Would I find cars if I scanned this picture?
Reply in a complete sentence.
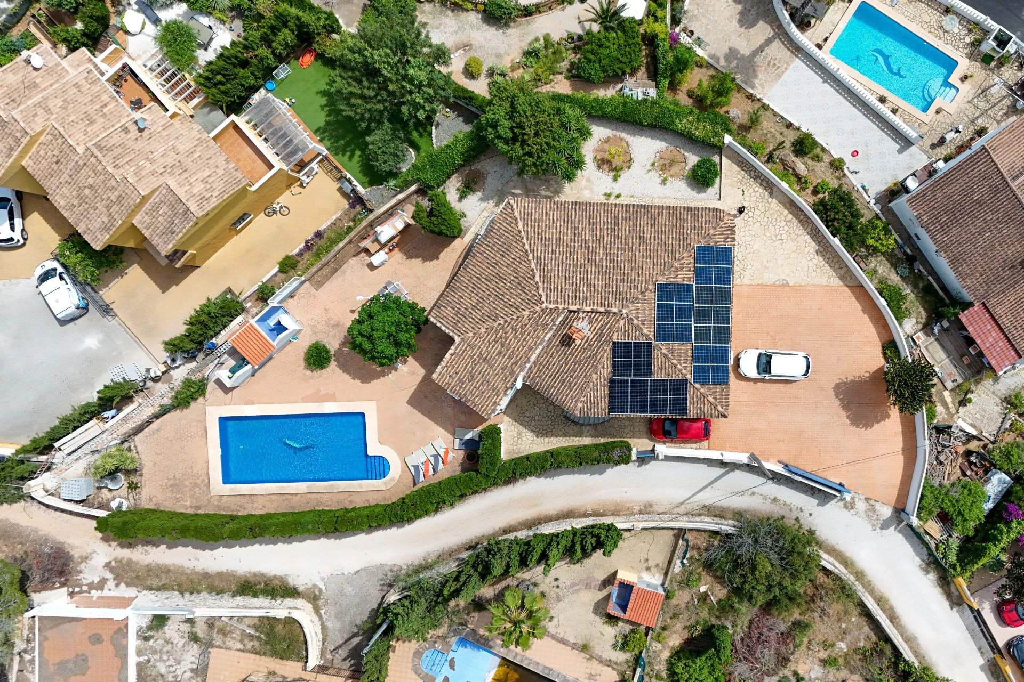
Yes, there's a car down there.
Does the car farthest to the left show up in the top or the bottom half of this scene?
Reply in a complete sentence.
It is in the top half that the car farthest to the left appears.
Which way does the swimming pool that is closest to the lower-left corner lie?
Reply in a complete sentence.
What the image shows is the swimming pool that is closest to the lower-left corner lying horizontally.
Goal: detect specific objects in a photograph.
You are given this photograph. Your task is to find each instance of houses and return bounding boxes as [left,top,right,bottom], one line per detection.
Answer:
[877,112,1024,375]
[427,195,736,423]
[0,43,294,272]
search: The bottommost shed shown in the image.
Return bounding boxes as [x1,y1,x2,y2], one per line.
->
[602,561,665,629]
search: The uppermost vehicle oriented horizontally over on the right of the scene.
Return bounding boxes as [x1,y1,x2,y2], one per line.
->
[735,347,809,382]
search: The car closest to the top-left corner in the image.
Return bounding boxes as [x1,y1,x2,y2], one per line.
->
[0,185,31,253]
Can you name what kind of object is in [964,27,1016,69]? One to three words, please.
building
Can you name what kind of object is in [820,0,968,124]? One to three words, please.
swimming pool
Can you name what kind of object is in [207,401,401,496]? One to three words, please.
swimming pool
